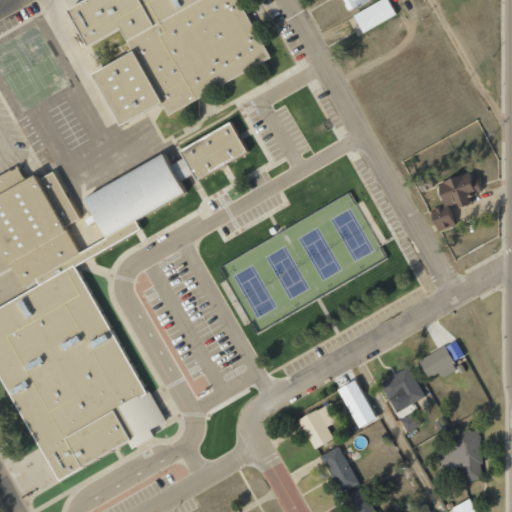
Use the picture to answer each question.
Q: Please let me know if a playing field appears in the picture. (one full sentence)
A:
Yes, you can see a playing field in this photo.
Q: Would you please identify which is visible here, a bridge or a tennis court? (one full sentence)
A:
I can see a tennis court in this picture.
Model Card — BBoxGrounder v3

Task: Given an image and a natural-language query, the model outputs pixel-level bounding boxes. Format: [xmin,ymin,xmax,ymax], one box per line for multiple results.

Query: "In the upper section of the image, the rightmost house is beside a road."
[431,172,482,232]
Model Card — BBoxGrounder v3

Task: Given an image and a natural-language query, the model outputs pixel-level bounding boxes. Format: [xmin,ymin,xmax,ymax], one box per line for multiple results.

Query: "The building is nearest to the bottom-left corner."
[0,266,148,482]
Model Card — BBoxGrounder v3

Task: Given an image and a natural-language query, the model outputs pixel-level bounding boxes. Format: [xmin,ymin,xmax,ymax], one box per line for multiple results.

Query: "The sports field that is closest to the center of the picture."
[224,193,387,333]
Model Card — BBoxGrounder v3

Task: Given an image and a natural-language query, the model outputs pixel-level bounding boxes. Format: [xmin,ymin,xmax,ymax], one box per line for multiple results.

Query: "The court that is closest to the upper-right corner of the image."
[332,209,374,262]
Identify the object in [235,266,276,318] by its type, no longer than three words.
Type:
tennis court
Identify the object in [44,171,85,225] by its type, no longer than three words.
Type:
building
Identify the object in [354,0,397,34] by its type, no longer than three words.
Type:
barn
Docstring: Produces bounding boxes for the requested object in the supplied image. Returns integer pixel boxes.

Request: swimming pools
[354,436,368,450]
